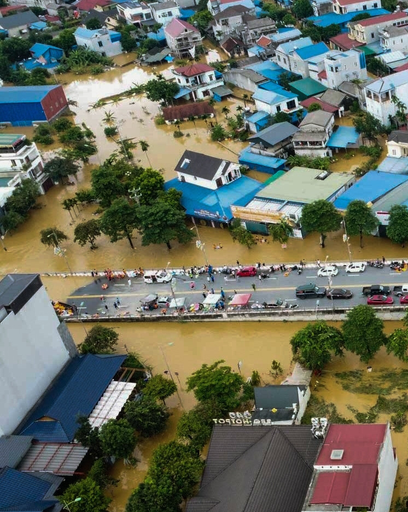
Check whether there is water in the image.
Yes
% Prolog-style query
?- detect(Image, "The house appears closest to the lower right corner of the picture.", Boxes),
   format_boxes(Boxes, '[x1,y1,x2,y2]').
[300,420,394,512]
